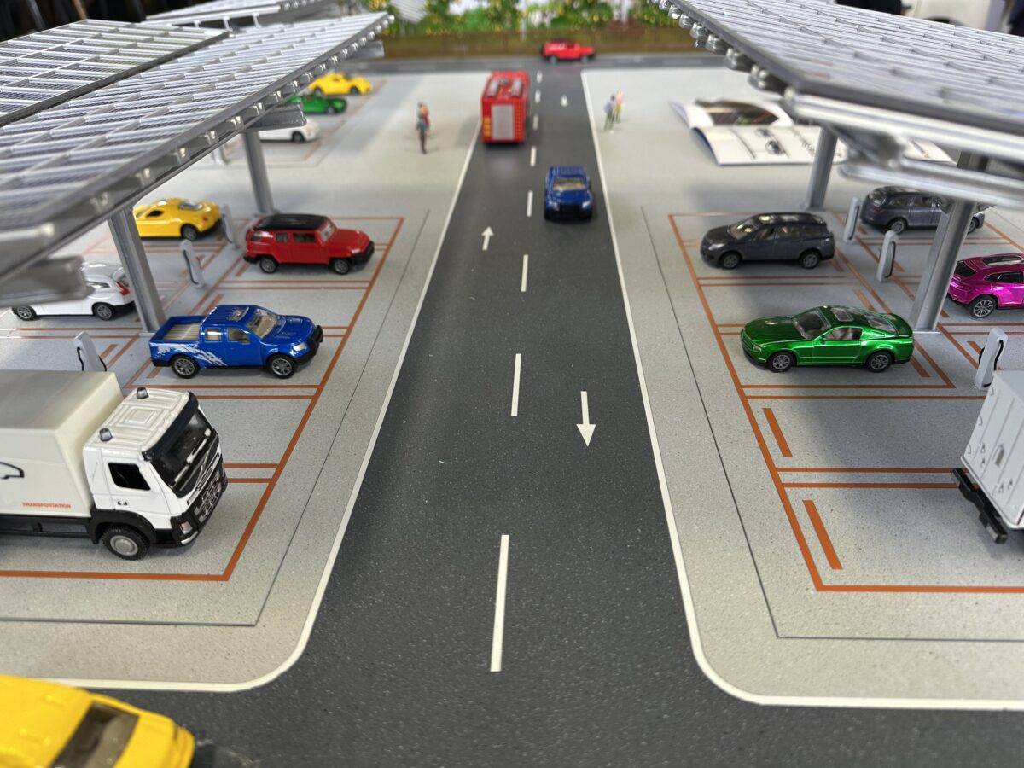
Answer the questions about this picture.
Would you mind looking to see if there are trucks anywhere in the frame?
Yes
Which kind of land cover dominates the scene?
paved ground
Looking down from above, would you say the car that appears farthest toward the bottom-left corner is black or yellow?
yellow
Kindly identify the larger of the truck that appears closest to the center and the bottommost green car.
the car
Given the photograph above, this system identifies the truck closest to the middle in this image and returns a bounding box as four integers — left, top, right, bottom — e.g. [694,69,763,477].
[544,167,595,222]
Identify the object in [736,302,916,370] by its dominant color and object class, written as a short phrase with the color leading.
green car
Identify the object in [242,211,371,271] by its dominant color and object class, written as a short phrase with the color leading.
red car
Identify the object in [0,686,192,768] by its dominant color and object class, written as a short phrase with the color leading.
yellow car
